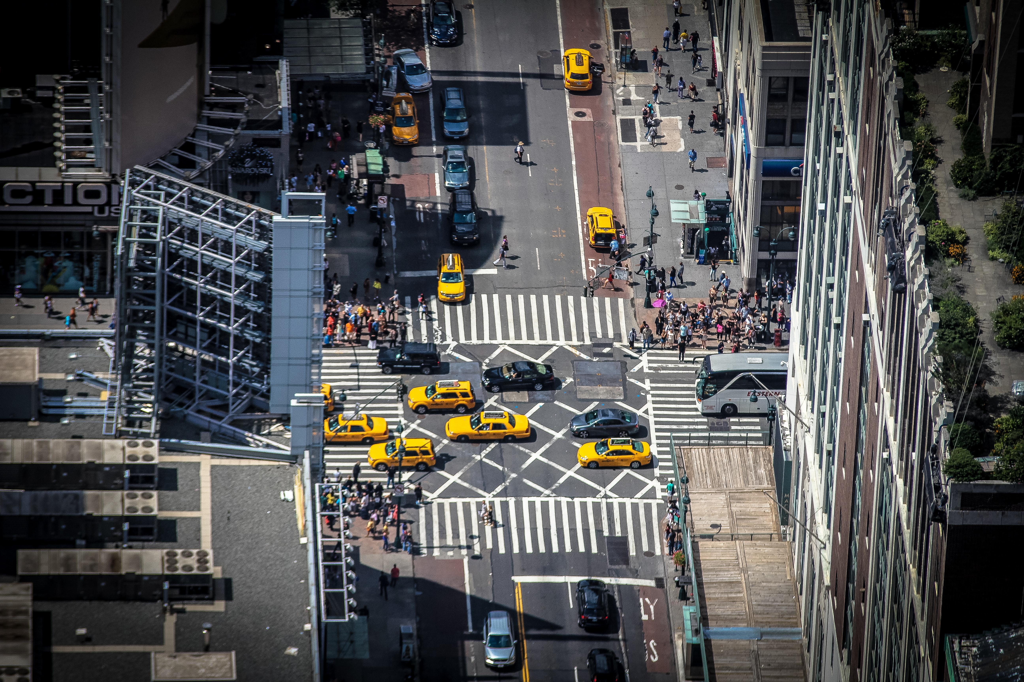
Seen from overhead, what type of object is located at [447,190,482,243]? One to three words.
car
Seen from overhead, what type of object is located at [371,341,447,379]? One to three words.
car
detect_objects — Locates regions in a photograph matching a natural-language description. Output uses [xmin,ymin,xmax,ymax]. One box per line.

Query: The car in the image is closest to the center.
[480,364,556,395]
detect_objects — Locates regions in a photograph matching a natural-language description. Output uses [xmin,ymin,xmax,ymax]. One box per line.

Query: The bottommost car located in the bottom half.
[586,653,622,682]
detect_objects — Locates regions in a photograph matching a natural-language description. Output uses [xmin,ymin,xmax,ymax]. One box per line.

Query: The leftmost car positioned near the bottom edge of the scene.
[481,610,520,670]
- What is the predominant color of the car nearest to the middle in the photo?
black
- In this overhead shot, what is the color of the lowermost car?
black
